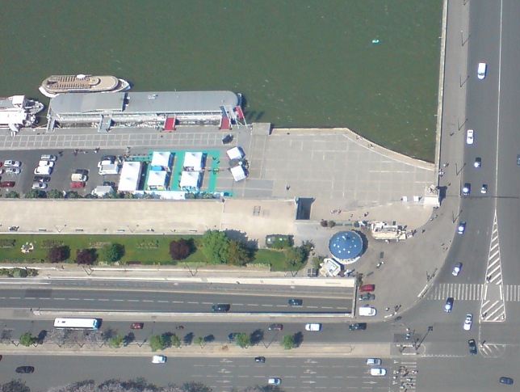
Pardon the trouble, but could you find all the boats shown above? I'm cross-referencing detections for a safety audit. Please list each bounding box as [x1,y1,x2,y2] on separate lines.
[0,90,45,114]
[39,71,130,97]
[0,111,35,128]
